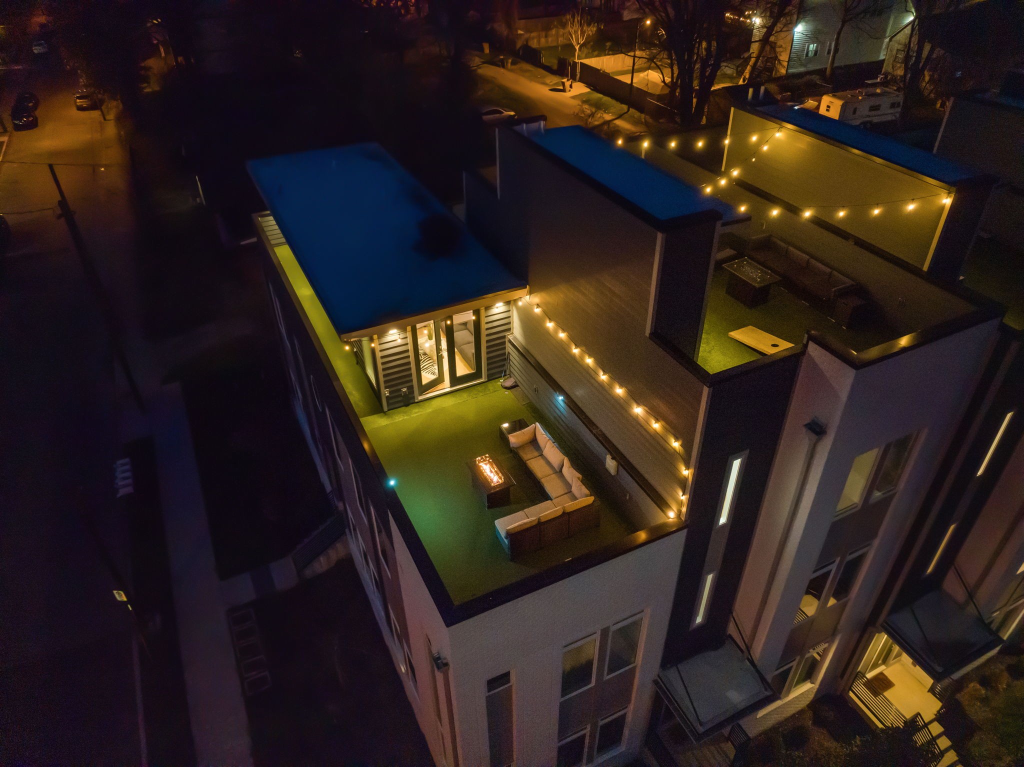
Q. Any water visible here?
No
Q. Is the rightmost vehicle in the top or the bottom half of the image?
top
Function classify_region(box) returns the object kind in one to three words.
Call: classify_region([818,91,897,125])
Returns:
vehicle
